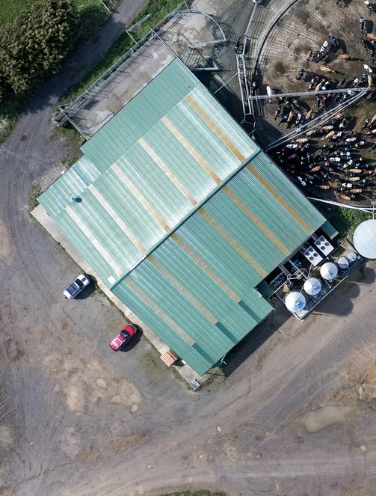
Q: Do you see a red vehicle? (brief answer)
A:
Yes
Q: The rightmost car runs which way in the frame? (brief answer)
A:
at an angle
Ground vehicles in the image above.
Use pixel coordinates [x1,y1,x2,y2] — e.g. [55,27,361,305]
[106,323,138,353]
[59,272,95,302]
